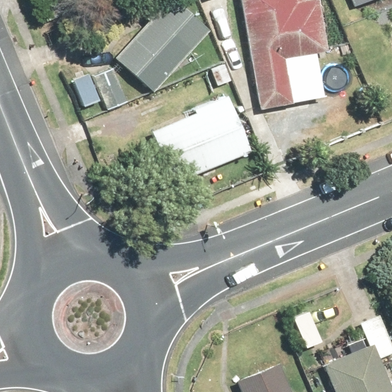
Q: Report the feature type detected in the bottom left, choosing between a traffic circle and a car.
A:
traffic circle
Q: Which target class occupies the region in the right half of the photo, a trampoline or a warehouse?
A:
trampoline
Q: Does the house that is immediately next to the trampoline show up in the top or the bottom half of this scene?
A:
top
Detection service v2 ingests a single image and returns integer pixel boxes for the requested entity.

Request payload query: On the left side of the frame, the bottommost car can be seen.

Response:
[80,51,114,70]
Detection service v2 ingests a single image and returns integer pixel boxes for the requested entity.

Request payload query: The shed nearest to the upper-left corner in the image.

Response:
[72,74,100,108]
